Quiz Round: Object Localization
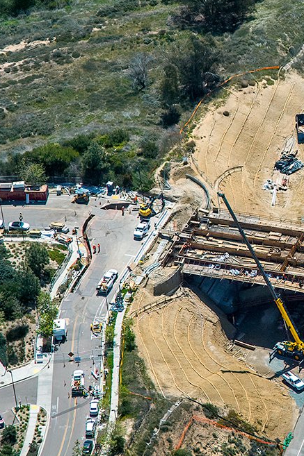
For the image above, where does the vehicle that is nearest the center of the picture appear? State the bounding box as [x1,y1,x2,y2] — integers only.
[134,219,149,239]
